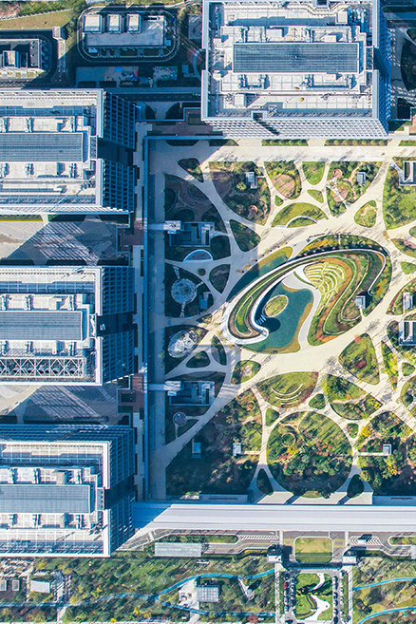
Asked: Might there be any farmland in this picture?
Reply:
No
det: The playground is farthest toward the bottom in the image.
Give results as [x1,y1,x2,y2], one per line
[167,329,199,358]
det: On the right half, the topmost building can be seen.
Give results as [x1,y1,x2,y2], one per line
[202,0,387,136]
